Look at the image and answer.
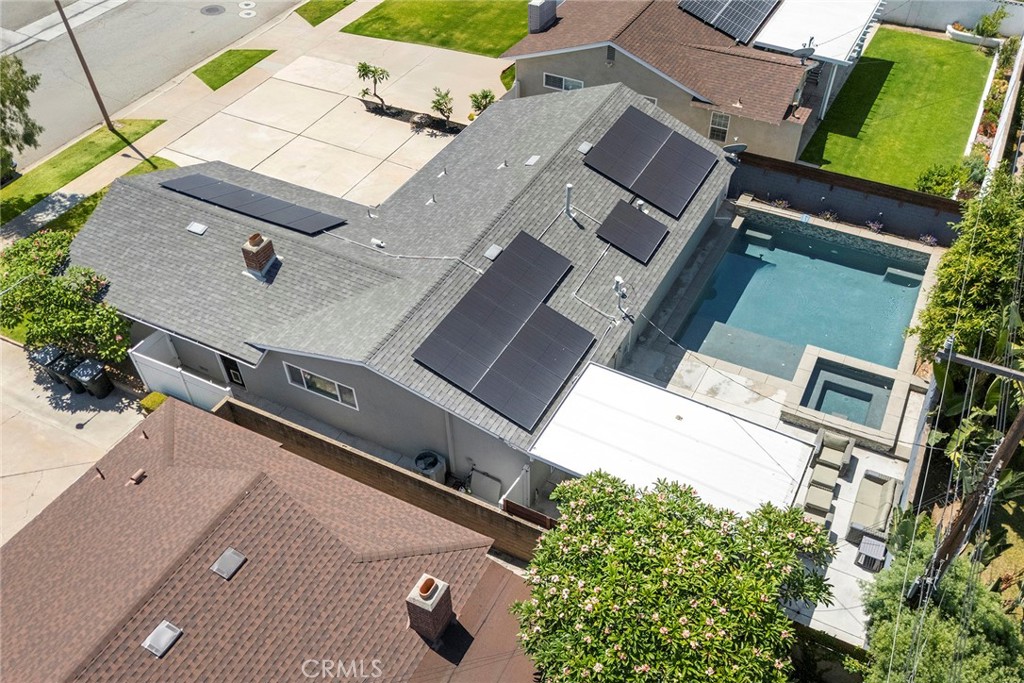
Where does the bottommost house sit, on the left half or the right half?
left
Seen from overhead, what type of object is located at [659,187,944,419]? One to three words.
swimming pool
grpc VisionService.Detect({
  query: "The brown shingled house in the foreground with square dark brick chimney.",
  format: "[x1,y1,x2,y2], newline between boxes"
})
[0,395,495,683]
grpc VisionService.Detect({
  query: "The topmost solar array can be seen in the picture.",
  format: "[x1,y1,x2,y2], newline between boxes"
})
[681,0,775,39]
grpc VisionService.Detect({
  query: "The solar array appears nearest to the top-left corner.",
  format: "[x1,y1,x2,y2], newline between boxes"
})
[162,173,345,235]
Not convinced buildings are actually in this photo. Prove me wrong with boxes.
[0,395,495,683]
[54,83,737,504]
